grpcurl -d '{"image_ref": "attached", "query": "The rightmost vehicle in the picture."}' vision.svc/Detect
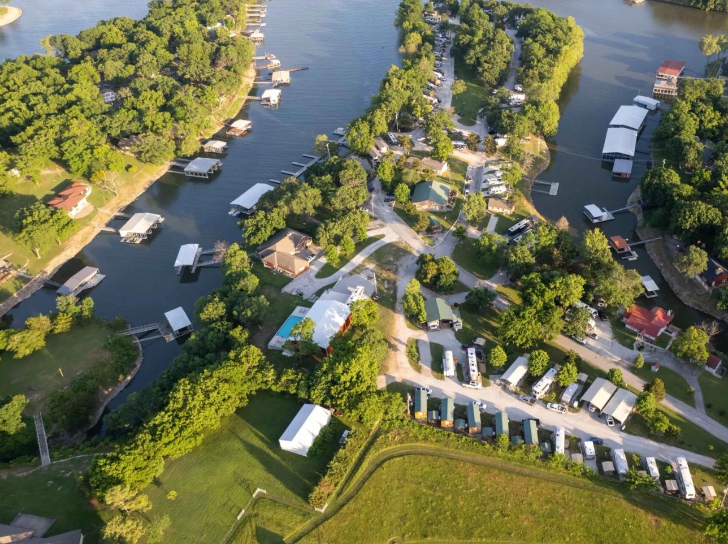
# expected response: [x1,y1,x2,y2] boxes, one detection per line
[674,459,696,504]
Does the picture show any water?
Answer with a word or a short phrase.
Yes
